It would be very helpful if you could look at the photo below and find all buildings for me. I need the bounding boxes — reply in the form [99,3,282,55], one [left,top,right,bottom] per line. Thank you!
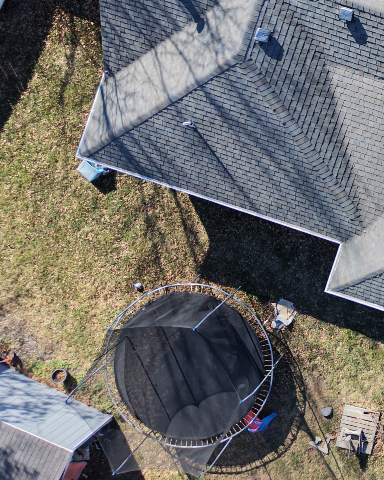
[0,361,101,480]
[76,0,384,311]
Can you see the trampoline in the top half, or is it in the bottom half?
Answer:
bottom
